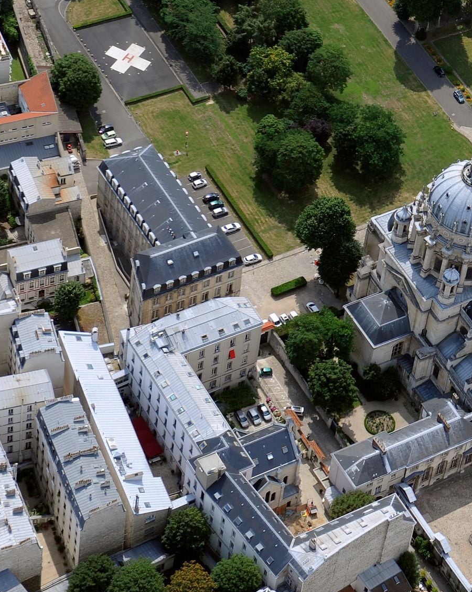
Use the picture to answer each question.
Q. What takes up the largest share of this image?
buildings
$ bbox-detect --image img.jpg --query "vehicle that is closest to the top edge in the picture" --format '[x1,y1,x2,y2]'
[430,64,446,78]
